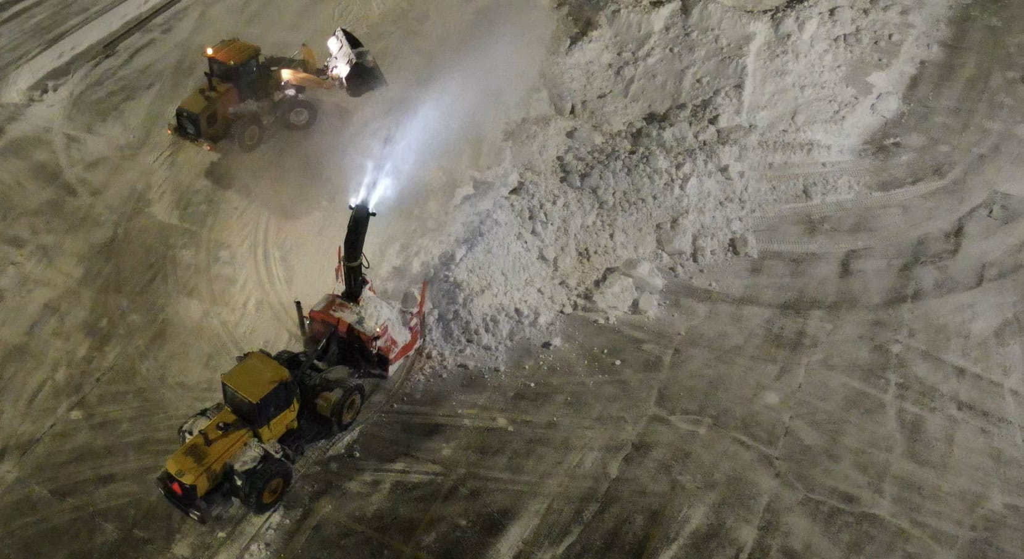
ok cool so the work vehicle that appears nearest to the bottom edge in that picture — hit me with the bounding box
[152,329,362,529]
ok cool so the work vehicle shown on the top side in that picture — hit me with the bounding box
[169,30,394,155]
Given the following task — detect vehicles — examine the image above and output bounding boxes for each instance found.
[152,329,362,529]
[169,30,394,155]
